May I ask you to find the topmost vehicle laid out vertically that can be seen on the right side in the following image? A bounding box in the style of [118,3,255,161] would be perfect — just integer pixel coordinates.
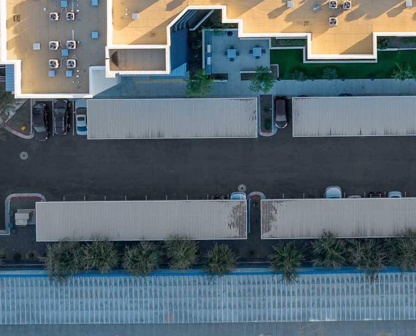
[273,96,289,128]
